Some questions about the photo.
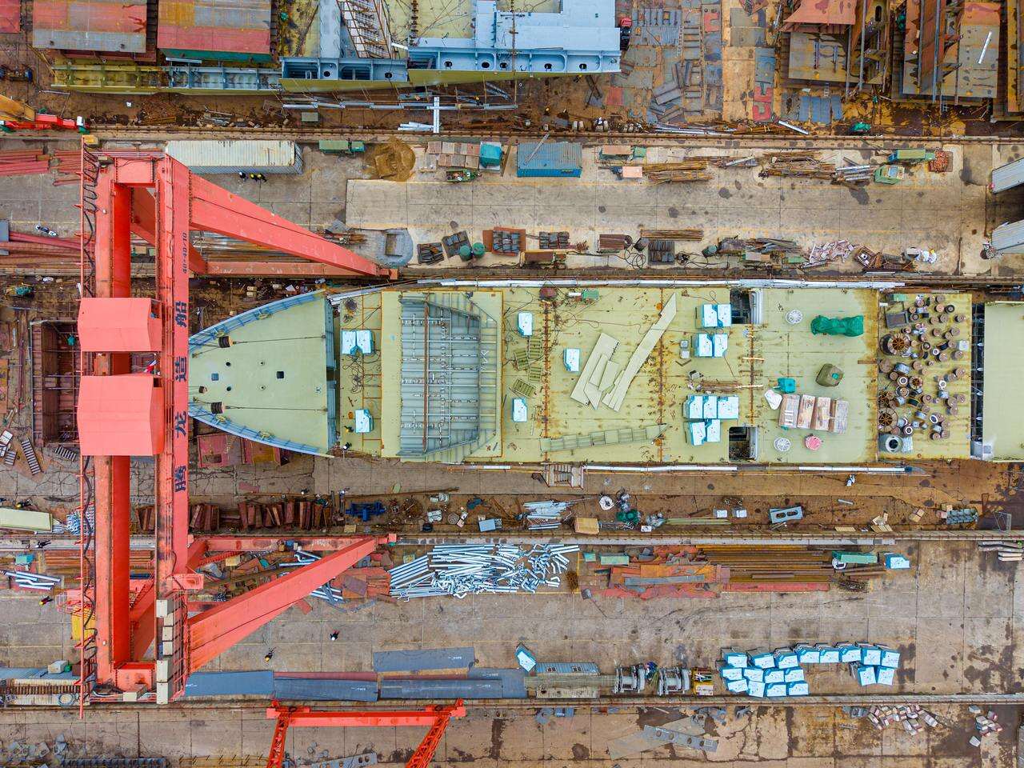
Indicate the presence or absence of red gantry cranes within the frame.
Yes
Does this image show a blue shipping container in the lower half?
No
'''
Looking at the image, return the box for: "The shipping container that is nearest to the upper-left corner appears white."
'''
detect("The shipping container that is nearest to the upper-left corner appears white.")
[167,141,303,174]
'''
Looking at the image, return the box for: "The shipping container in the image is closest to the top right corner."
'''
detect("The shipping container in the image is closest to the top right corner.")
[517,143,582,176]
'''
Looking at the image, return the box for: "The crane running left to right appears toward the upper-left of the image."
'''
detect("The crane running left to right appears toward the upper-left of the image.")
[0,95,95,136]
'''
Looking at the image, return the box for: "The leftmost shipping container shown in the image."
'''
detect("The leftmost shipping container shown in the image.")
[0,505,65,530]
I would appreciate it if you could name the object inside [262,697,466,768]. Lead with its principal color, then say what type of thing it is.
red container crane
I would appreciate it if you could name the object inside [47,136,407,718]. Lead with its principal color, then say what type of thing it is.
red container crane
